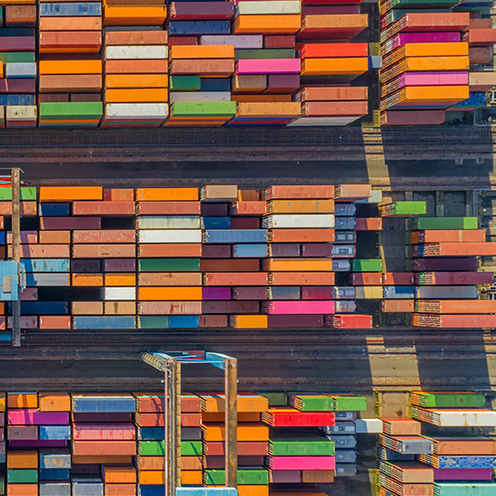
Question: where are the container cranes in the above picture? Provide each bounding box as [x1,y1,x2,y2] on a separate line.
[0,166,27,342]
[137,349,243,496]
